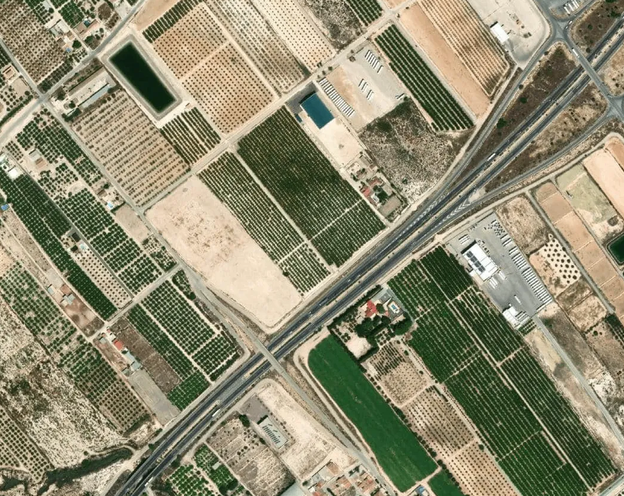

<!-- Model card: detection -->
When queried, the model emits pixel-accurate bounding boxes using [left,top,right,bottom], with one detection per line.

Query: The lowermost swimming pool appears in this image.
[383,297,405,319]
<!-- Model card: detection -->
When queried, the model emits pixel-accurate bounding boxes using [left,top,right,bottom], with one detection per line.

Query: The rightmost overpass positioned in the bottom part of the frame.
[209,290,321,414]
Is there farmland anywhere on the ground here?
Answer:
Yes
